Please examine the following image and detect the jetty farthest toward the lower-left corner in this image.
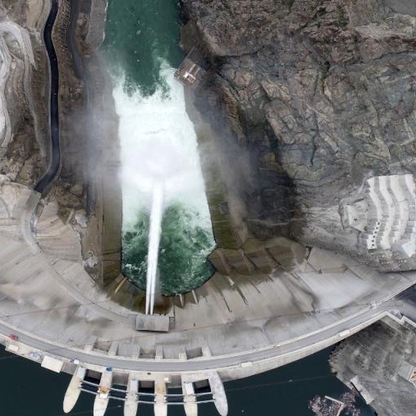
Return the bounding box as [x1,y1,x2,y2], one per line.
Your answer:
[65,366,90,414]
